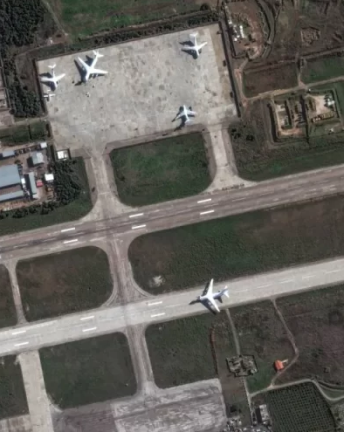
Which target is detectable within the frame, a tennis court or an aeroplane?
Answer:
aeroplane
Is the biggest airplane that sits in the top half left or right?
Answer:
left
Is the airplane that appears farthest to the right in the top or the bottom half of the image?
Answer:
bottom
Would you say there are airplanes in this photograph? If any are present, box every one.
[42,62,67,89]
[79,49,109,81]
[200,279,232,310]
[184,32,208,57]
[177,104,198,125]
